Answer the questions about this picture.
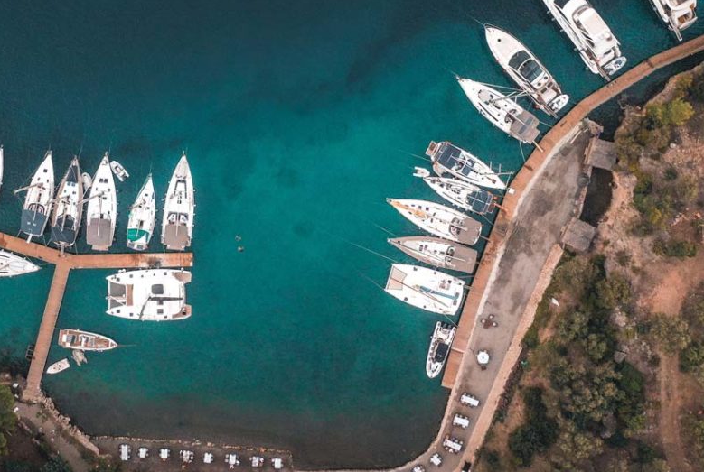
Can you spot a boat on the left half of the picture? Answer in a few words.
Yes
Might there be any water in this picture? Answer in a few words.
Yes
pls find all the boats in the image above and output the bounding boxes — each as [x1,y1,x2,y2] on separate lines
[47,359,71,375]
[347,240,475,325]
[159,144,198,251]
[429,323,454,380]
[0,250,51,279]
[639,0,701,41]
[471,16,573,117]
[105,266,193,323]
[14,139,56,248]
[603,57,628,74]
[361,225,484,274]
[111,162,127,181]
[409,140,521,192]
[54,328,118,353]
[43,145,85,256]
[432,164,445,177]
[422,176,509,228]
[384,197,490,255]
[541,0,621,85]
[414,167,431,178]
[83,173,92,189]
[72,350,88,366]
[455,77,545,162]
[76,141,122,251]
[127,158,159,254]
[546,95,568,113]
